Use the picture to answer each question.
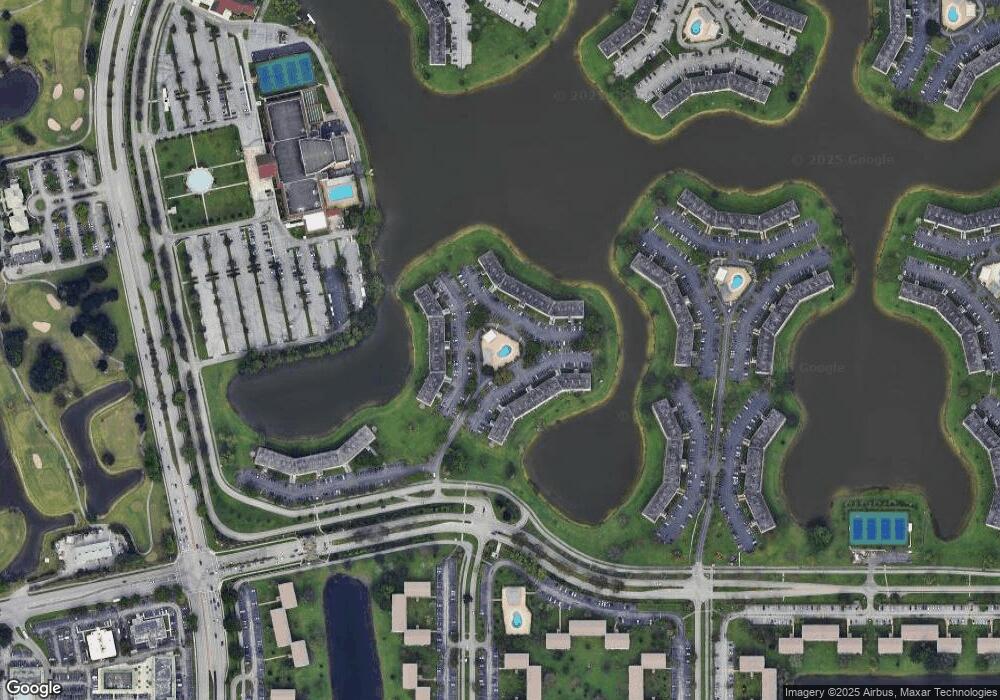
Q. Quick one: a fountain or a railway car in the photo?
fountain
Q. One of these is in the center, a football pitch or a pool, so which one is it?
pool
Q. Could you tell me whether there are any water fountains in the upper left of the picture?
Yes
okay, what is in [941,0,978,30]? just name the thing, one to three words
swimming pool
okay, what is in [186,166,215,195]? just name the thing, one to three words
fountain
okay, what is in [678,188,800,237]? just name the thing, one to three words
building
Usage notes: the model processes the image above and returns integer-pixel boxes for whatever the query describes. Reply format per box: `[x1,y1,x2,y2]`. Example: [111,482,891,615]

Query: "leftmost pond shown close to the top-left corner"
[0,68,39,121]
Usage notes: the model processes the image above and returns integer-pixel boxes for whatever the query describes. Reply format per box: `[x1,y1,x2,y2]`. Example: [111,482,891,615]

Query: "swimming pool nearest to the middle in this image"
[482,329,520,370]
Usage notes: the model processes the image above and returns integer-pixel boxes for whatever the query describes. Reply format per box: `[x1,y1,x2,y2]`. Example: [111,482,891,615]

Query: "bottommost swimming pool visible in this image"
[502,587,531,635]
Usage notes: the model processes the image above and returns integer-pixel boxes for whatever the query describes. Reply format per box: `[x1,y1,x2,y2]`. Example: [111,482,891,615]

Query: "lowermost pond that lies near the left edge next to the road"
[0,415,77,583]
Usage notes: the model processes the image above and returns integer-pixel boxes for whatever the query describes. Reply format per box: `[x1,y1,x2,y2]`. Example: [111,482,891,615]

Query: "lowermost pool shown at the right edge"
[979,264,1000,301]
